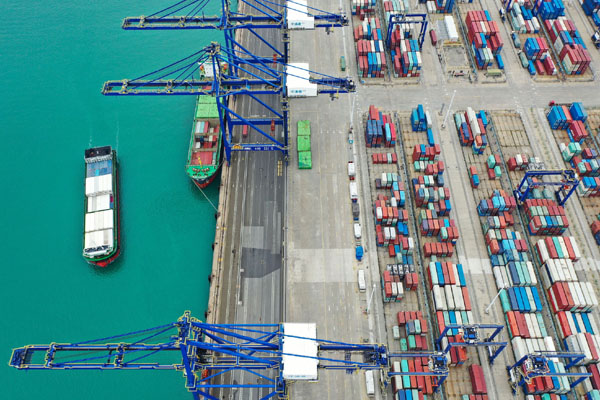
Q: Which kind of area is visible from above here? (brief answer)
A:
port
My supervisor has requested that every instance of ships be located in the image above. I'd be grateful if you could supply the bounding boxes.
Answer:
[82,141,121,266]
[186,52,224,189]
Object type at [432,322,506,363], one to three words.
container crane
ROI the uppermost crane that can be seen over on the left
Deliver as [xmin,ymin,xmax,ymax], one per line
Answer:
[120,0,354,102]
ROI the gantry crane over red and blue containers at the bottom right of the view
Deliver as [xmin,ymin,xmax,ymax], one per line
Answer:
[511,351,596,392]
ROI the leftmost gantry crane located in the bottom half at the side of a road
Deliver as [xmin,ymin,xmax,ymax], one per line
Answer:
[5,312,388,400]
